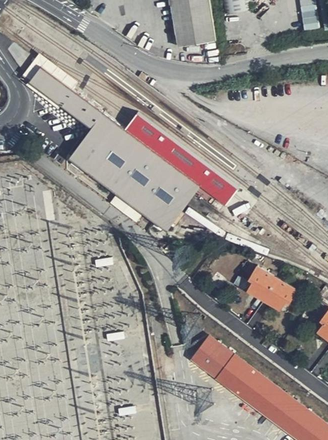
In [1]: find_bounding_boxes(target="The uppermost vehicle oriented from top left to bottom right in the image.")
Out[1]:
[138,70,156,84]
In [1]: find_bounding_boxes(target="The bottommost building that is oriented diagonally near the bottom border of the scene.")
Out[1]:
[192,332,328,440]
